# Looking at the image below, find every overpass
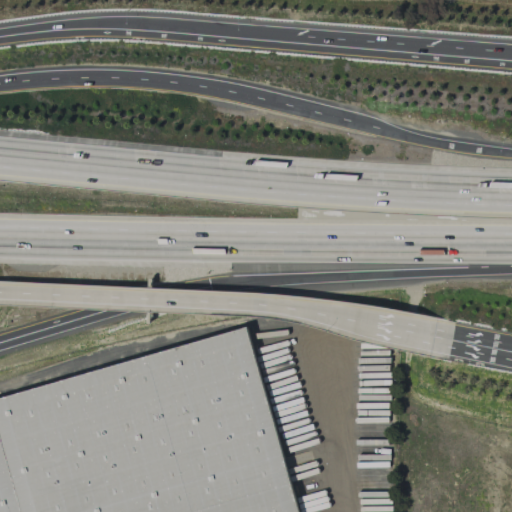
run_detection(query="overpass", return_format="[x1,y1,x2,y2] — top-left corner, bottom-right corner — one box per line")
[0,278,454,360]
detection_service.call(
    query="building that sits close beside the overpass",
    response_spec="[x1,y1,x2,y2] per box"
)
[0,328,298,512]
